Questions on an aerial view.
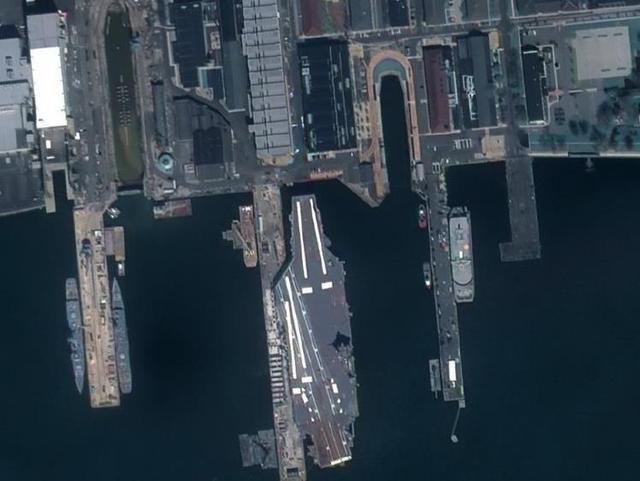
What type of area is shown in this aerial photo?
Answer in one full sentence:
What you see here is a port.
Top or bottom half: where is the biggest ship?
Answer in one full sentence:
The bottom half of the photo is where the biggest ship is.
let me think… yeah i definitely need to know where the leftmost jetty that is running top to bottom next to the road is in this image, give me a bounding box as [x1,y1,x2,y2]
[75,207,119,408]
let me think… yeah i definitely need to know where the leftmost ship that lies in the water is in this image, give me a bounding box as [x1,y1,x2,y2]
[66,279,84,393]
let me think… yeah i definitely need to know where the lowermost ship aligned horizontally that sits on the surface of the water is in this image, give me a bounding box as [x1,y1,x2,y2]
[153,200,191,219]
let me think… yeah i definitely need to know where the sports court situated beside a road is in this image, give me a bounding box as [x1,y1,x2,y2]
[576,26,632,80]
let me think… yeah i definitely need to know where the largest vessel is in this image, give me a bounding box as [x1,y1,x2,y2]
[273,194,359,469]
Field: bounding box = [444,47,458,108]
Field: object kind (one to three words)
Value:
building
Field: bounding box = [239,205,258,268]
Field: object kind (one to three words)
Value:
ship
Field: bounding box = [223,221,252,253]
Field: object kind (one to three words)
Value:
ship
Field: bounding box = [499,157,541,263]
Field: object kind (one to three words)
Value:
pier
